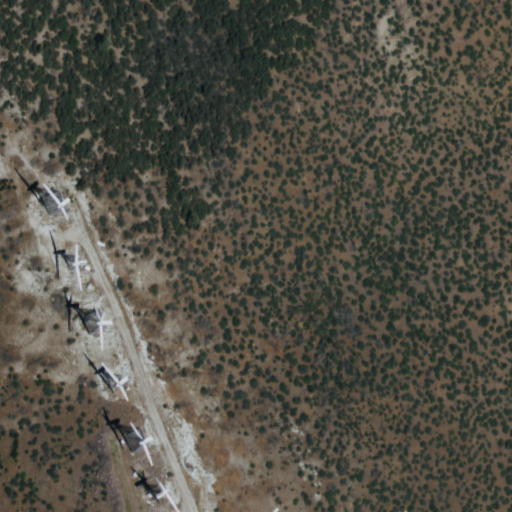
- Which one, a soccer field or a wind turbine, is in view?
wind turbine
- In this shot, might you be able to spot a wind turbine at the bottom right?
No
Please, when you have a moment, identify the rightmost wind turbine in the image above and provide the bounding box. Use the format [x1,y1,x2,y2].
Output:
[147,478,180,512]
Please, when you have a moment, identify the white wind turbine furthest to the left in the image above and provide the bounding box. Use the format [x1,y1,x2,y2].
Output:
[41,184,71,221]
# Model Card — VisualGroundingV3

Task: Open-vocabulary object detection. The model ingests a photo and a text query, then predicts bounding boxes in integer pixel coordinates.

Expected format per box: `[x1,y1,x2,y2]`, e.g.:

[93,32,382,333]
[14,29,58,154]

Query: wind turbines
[80,308,112,350]
[122,424,154,465]
[65,244,88,290]
[147,478,180,512]
[41,184,71,221]
[101,363,128,399]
